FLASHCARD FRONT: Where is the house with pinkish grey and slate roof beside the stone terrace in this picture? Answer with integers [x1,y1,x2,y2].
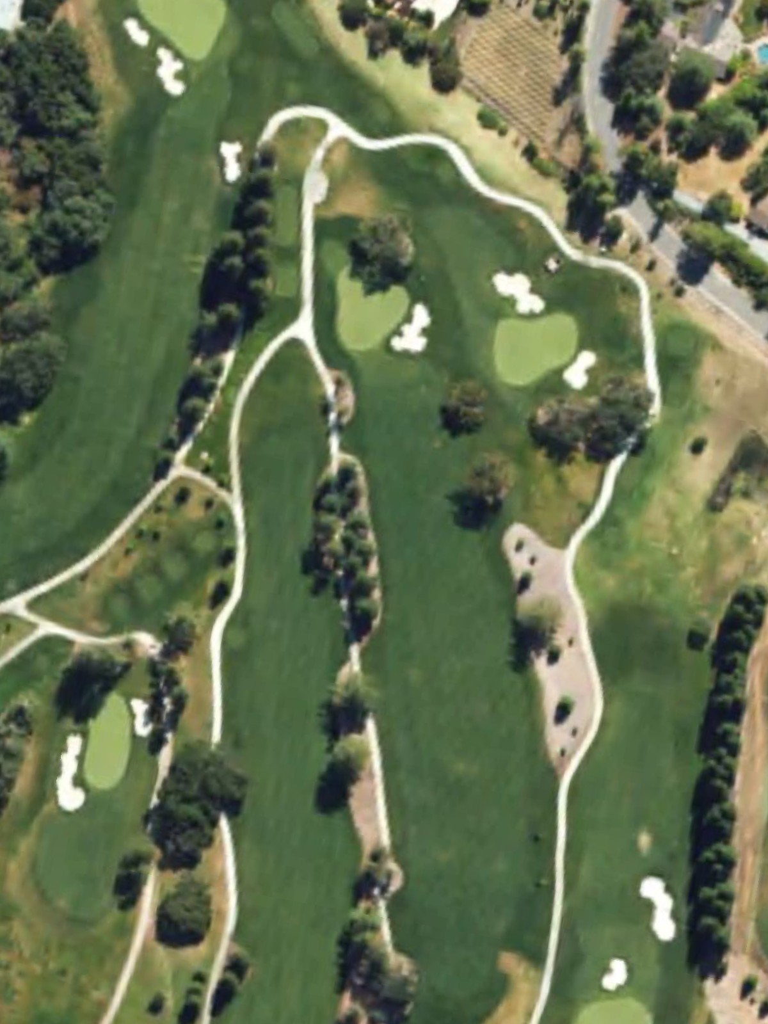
[681,0,737,45]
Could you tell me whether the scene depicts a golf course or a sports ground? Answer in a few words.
golf course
